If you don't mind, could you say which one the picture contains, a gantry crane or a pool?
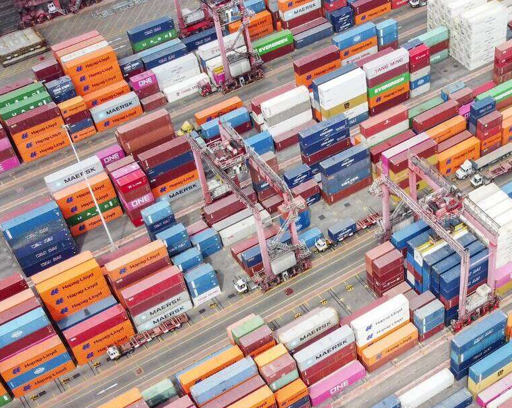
gantry crane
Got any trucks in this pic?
Yes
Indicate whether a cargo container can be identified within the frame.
Yes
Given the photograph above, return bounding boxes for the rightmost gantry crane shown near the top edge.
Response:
[165,0,264,89]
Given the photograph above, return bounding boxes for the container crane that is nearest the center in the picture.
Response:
[175,116,314,290]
